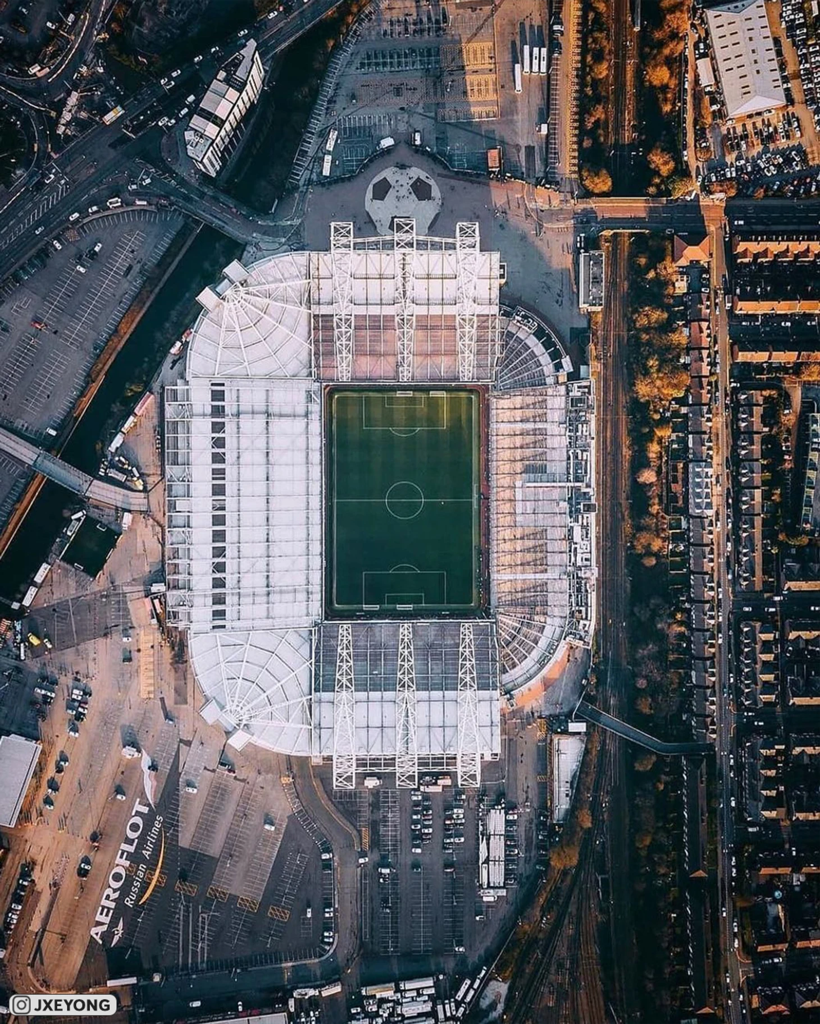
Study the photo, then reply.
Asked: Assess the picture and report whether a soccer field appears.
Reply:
Yes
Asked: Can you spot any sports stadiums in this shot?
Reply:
Yes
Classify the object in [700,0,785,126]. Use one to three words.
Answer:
building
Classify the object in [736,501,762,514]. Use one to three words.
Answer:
house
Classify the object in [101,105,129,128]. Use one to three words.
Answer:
bus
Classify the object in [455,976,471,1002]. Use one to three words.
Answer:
vehicle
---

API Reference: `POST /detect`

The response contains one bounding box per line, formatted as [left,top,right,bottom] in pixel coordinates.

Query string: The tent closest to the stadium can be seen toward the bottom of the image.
[486,807,505,834]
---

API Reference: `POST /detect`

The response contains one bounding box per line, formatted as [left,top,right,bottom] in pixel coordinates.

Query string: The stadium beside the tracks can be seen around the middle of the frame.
[165,218,599,789]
